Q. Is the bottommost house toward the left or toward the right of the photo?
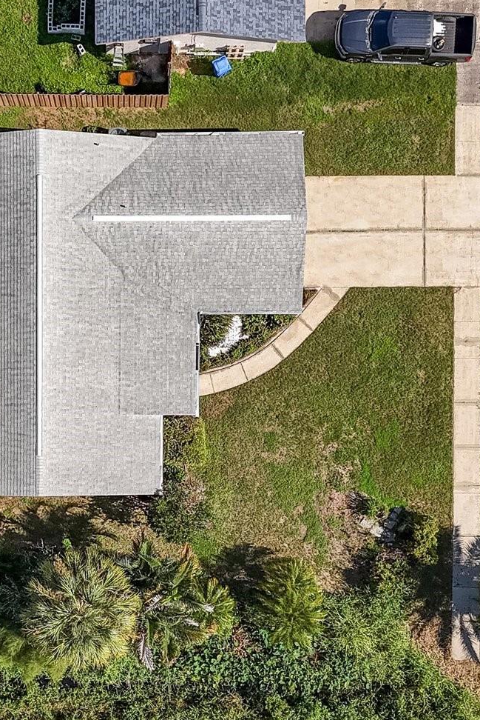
left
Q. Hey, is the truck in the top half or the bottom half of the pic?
top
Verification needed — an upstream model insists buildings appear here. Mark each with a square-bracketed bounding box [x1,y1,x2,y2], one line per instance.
[0,126,309,499]
[94,0,307,53]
